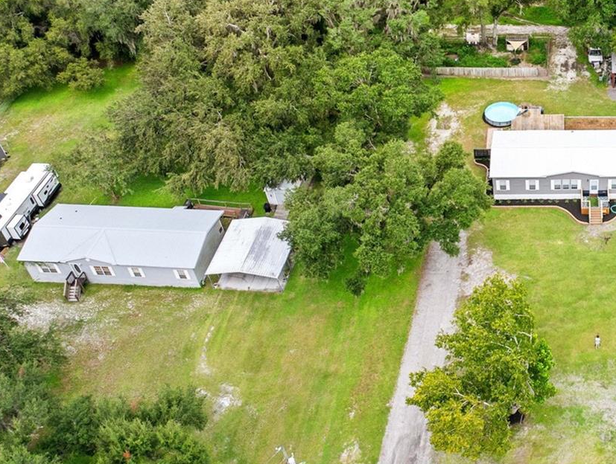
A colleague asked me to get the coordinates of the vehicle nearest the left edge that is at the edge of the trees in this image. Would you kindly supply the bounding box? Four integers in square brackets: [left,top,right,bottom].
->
[0,165,57,256]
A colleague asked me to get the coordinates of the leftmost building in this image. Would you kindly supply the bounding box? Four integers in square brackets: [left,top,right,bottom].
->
[17,204,227,287]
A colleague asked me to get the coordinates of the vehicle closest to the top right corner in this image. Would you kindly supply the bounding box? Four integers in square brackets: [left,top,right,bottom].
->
[589,44,604,69]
